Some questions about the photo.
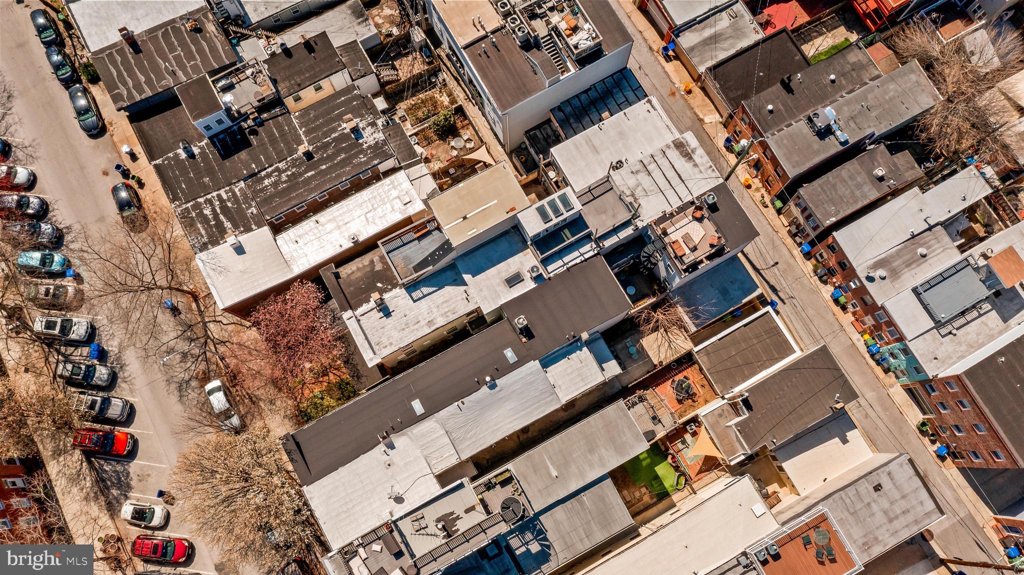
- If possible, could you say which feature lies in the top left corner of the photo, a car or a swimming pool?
car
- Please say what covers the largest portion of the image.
buildings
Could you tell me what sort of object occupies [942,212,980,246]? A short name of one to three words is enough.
shed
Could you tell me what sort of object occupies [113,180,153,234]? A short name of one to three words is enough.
car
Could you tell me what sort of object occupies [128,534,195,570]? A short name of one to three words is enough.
car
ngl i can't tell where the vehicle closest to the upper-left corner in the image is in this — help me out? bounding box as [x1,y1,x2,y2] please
[28,5,65,49]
